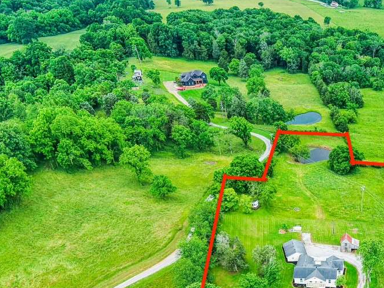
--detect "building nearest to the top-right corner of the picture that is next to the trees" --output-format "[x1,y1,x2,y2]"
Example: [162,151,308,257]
[176,72,209,89]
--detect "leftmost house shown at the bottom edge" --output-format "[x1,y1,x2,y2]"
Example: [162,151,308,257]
[283,237,346,288]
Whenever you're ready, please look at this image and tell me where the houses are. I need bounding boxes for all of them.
[176,72,209,89]
[283,237,346,288]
